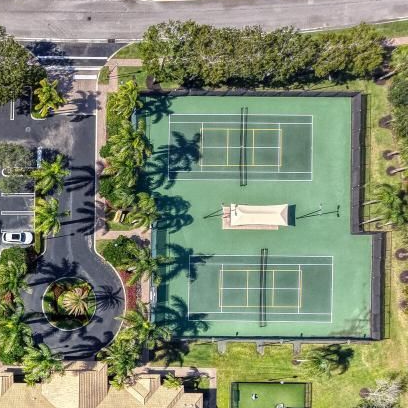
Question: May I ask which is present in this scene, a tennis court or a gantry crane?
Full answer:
This aerial view contains a tennis court.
